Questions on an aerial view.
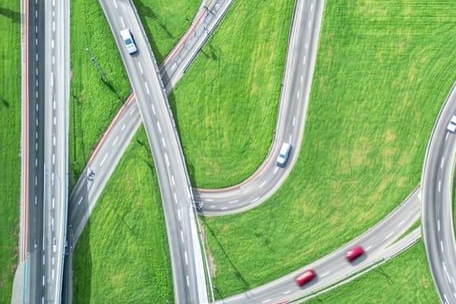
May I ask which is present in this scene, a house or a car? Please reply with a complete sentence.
I can see a car in this picture.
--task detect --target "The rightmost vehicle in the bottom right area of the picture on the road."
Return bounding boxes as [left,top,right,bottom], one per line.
[343,245,367,264]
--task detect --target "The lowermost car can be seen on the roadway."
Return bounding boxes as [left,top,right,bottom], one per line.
[293,267,319,286]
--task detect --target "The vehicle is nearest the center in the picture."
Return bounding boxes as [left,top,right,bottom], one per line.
[275,142,293,167]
